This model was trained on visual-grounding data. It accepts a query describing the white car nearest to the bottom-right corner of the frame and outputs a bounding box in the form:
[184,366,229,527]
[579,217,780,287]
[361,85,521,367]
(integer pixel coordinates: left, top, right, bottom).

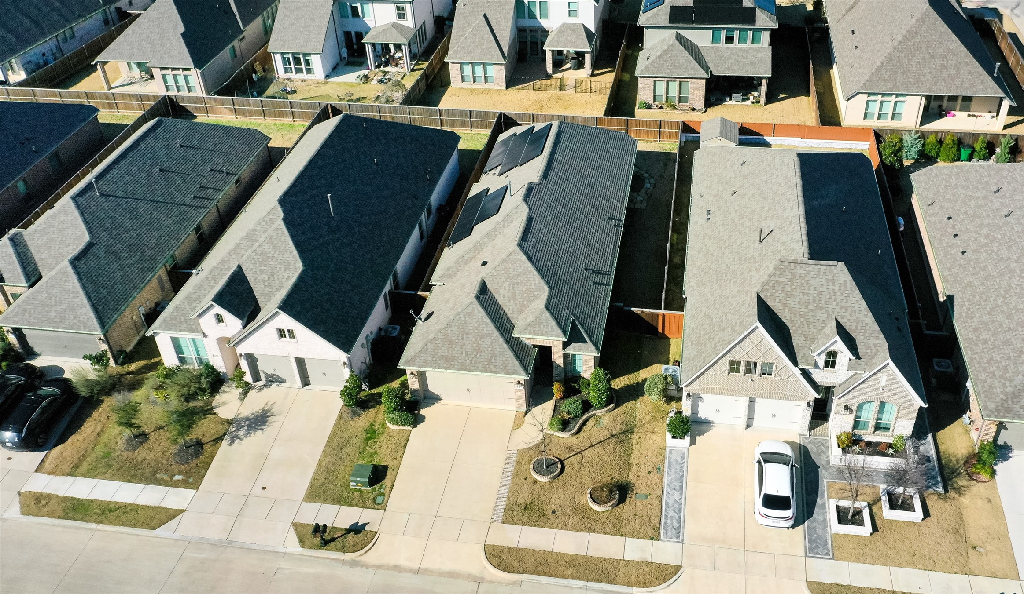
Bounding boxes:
[750,440,800,532]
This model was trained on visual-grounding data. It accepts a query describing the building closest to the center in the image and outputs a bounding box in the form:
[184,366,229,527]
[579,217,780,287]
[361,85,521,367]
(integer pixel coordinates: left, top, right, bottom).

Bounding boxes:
[396,120,639,414]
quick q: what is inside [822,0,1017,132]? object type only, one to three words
house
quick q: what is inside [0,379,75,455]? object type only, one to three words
car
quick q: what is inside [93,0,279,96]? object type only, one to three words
house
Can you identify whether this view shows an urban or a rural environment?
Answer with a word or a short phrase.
urban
